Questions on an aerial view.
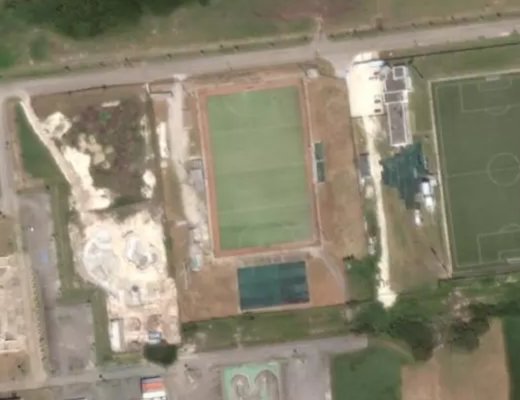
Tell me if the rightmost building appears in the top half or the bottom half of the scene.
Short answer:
top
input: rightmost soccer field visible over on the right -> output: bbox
[431,66,520,275]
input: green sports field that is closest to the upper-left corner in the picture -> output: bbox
[196,77,320,257]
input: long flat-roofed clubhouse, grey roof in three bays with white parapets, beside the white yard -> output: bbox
[385,66,413,146]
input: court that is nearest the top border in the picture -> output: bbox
[236,260,312,313]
